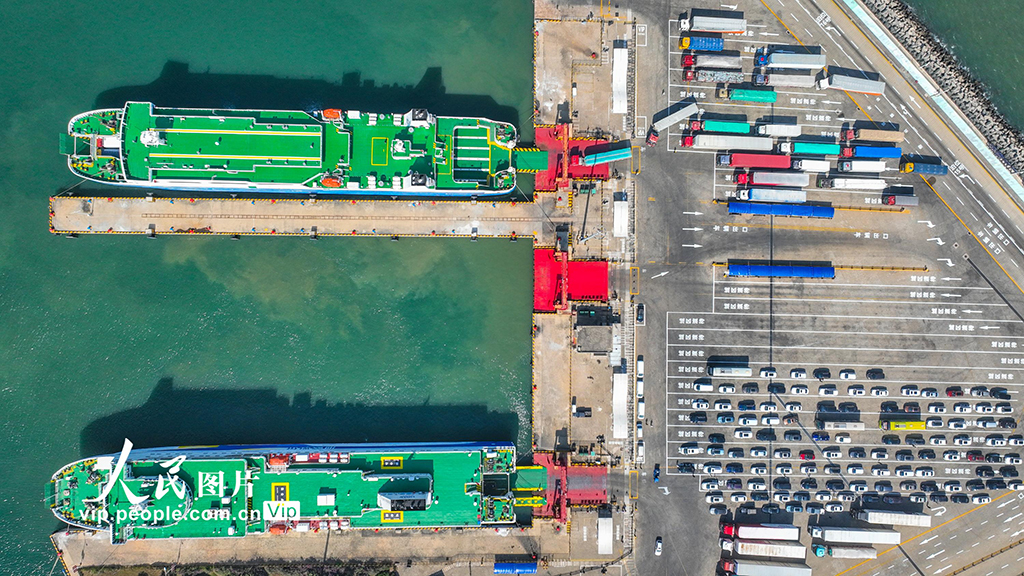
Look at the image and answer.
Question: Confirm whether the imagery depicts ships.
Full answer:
Yes, the picture does show a ship.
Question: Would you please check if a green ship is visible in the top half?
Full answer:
Yes, a green ship appears in the top half.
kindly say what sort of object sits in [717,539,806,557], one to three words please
vehicle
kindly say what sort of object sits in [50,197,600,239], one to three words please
pier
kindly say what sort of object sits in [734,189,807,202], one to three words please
vehicle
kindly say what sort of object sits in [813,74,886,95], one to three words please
truck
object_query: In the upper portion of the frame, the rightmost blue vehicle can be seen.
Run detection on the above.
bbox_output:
[894,160,948,175]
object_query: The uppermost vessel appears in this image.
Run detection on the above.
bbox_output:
[59,102,548,196]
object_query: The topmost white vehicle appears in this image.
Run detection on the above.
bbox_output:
[677,18,746,33]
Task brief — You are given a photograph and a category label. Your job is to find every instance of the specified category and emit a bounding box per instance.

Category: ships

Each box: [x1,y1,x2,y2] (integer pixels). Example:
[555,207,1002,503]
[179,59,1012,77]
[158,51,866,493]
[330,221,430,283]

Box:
[45,442,547,545]
[59,102,548,196]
